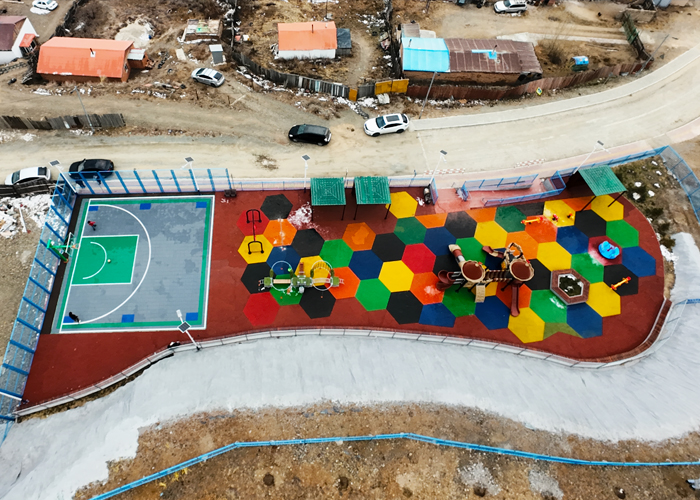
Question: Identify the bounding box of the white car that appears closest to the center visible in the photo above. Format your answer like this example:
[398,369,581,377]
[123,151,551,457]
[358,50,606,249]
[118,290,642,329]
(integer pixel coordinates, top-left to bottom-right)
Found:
[364,113,409,137]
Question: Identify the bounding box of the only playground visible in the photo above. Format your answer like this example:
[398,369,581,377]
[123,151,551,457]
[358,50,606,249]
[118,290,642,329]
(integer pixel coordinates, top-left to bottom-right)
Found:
[21,173,671,409]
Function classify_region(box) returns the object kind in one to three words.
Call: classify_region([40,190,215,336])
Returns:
basketball court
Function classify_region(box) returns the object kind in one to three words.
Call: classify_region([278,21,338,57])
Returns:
house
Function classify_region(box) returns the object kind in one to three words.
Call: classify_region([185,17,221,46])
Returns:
shed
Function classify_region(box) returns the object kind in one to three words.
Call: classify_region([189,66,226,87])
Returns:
car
